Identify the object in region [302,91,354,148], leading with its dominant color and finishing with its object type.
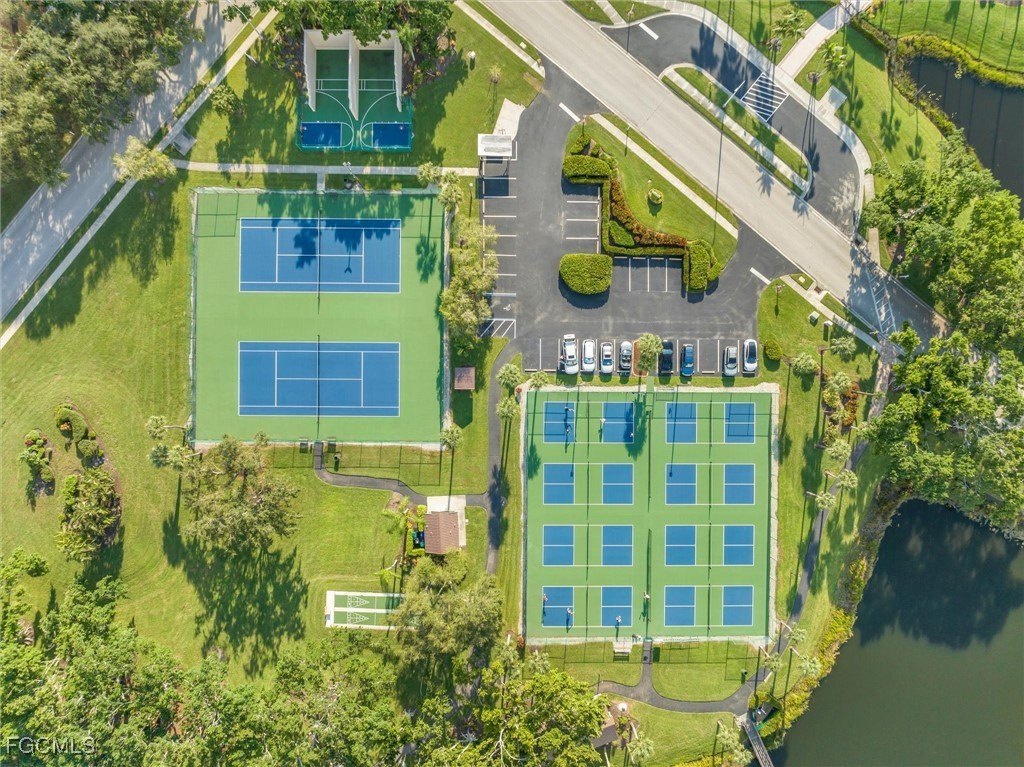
blue basketball court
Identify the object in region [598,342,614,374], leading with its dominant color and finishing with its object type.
white car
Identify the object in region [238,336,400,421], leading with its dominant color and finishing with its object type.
blue tennis court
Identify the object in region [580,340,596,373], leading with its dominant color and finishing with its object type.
white car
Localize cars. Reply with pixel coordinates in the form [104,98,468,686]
[580,340,596,373]
[598,342,614,374]
[619,341,634,370]
[741,339,758,371]
[558,336,579,374]
[722,346,739,377]
[680,344,696,377]
[659,340,676,373]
